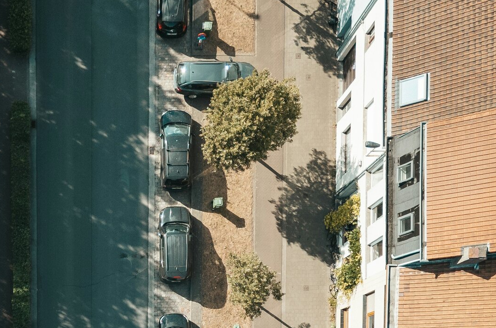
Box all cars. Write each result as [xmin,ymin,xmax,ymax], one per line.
[155,206,196,283]
[173,56,255,99]
[157,111,195,190]
[159,314,191,328]
[157,0,189,37]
